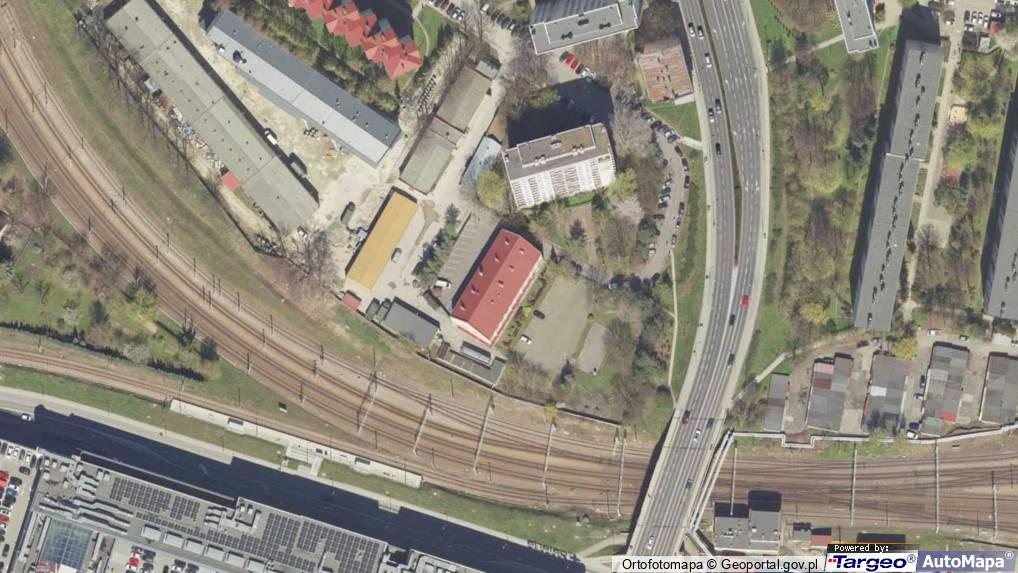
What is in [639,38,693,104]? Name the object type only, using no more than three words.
building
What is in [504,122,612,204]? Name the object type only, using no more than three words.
building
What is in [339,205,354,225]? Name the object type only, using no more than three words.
vehicle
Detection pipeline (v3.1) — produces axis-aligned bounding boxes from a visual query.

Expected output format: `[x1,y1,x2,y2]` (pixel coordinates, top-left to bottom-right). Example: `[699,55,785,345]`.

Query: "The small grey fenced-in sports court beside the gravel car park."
[578,321,607,372]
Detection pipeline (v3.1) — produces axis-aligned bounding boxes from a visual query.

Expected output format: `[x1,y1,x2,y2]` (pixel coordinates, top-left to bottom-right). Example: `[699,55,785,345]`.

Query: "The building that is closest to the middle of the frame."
[451,229,544,350]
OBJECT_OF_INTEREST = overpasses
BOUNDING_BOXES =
[620,0,773,573]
